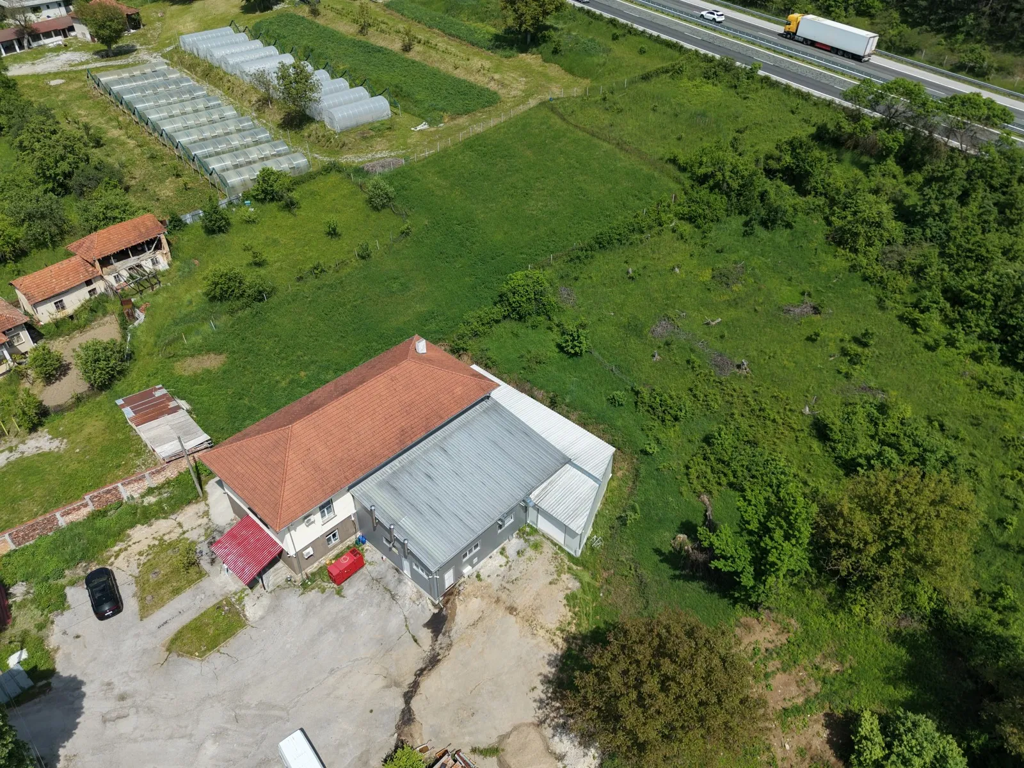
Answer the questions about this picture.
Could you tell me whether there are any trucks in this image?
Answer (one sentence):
Yes, looking at the shot, I can spot a truck.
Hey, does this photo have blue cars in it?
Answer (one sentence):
No, no blue car is visible in the view.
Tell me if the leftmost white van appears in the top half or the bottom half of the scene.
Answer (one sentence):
Seen from above, the leftmost white van lies in the bottom half of the view.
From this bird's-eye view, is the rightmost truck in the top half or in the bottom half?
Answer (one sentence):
It is in the top half that the rightmost truck appears.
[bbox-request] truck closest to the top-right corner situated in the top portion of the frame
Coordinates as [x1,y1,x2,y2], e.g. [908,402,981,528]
[785,18,870,60]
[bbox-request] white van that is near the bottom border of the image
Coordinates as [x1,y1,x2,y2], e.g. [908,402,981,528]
[278,730,328,768]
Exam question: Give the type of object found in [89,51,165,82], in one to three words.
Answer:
greenhouse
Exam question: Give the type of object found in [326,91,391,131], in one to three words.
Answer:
greenhouse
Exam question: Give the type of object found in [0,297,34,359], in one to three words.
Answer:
house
